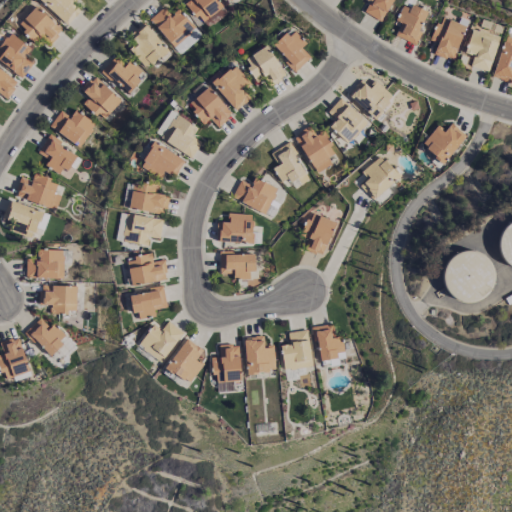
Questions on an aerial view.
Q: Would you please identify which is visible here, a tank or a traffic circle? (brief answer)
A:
tank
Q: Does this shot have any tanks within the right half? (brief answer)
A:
Yes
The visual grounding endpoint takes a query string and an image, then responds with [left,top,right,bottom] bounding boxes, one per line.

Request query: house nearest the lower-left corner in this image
[0,337,33,382]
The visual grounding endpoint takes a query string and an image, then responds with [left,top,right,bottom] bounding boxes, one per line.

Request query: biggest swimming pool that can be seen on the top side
[397,155,416,174]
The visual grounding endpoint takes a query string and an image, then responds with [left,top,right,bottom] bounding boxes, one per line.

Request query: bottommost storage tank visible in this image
[444,251,497,303]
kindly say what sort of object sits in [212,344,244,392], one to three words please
house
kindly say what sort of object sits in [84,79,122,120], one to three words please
house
